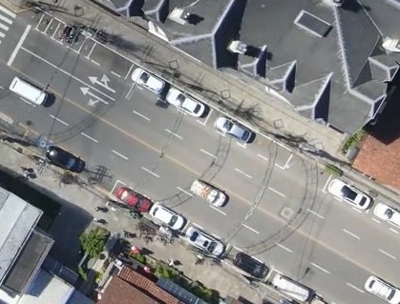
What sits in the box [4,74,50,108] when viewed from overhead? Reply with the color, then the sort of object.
white van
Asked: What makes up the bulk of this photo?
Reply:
paved ground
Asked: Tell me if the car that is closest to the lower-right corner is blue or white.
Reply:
white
